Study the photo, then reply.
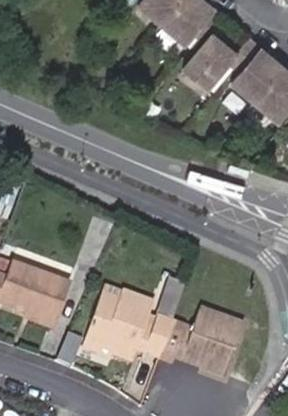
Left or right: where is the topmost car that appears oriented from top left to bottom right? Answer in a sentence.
It is on the right.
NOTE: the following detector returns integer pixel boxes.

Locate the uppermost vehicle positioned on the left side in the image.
[62,298,75,318]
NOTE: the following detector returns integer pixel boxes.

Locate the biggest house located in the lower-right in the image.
[184,304,245,380]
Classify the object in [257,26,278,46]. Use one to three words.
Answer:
car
